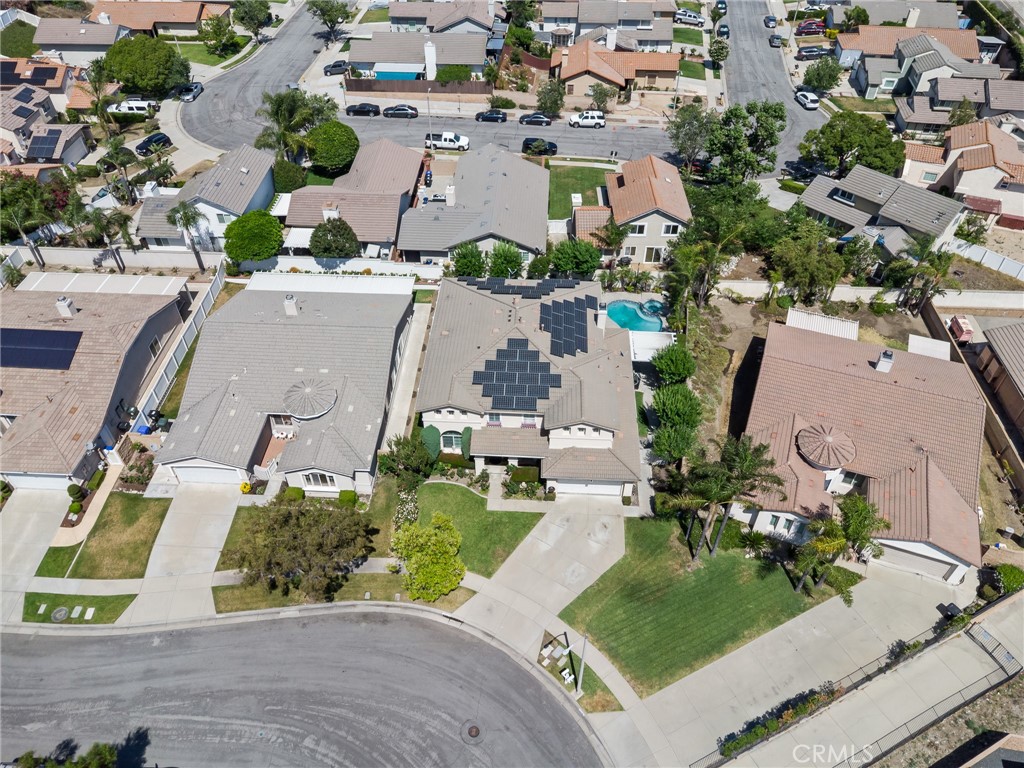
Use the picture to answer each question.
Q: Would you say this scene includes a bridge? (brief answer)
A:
No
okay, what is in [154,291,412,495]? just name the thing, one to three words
house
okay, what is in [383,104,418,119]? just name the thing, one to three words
car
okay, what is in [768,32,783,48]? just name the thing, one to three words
car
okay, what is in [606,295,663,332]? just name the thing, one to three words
swimming pool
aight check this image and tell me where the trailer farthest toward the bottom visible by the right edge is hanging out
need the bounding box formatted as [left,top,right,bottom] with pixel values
[945,314,976,349]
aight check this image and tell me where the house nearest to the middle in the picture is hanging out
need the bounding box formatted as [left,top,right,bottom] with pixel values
[416,278,641,500]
